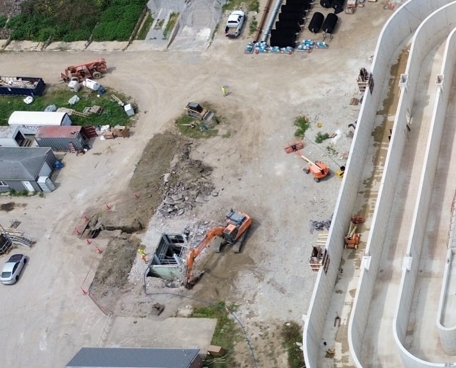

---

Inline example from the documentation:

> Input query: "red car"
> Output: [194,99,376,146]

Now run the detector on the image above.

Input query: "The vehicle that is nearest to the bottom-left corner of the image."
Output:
[0,252,26,282]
